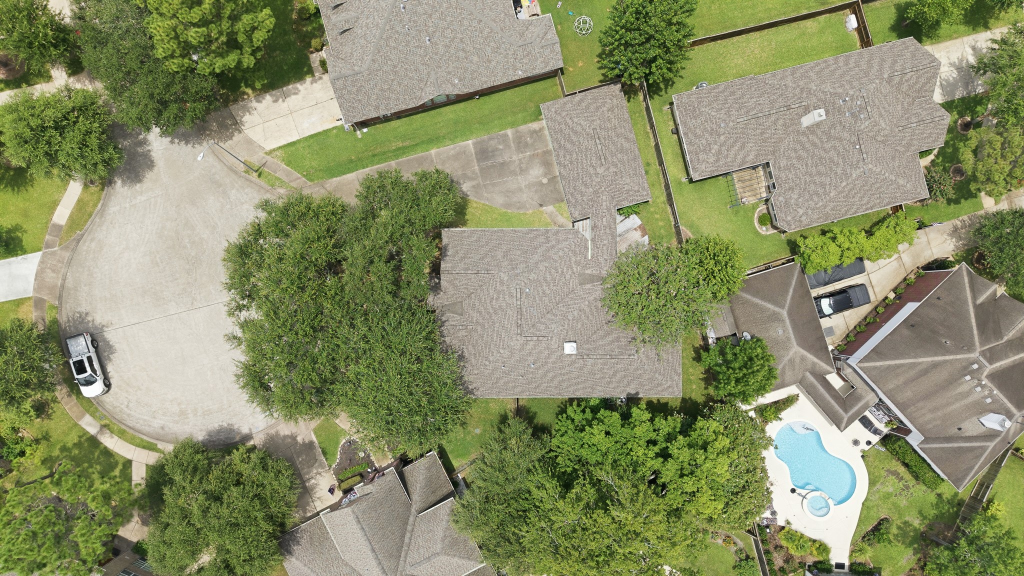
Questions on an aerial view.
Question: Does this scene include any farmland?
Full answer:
No, no farmland is visible.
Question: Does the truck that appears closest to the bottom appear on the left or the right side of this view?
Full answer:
It is on the left.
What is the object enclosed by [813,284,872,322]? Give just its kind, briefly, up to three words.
truck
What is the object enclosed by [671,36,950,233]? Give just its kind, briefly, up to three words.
house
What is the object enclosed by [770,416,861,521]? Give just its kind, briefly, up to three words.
swimming pool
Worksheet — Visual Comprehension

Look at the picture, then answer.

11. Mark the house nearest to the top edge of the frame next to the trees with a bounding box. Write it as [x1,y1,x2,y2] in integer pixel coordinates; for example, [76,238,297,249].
[317,0,564,129]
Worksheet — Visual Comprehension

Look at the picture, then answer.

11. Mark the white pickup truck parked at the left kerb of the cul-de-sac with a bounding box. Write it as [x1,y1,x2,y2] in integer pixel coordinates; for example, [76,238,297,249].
[68,328,111,400]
